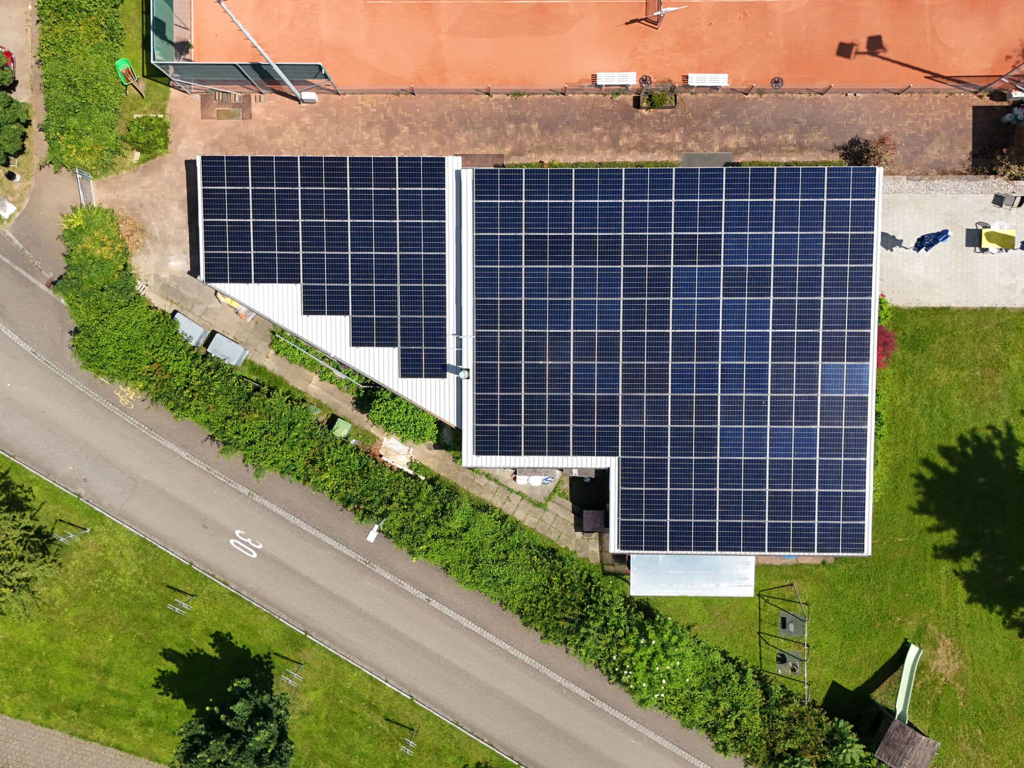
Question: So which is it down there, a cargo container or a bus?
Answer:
cargo container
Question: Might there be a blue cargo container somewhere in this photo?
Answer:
No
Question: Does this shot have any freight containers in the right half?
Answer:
No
